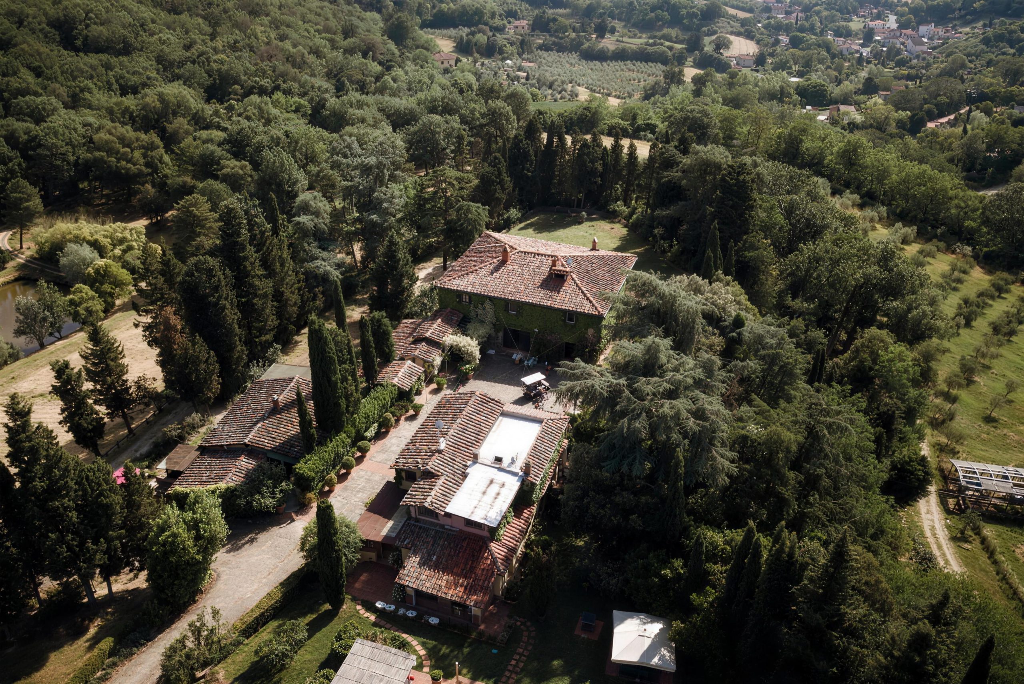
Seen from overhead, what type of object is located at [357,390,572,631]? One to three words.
house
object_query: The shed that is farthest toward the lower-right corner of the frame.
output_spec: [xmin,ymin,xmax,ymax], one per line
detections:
[944,458,1024,522]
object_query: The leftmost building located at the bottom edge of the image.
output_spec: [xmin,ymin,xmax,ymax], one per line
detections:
[332,640,419,684]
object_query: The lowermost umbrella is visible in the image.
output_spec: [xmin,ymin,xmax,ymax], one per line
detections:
[606,610,678,678]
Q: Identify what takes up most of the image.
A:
trees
